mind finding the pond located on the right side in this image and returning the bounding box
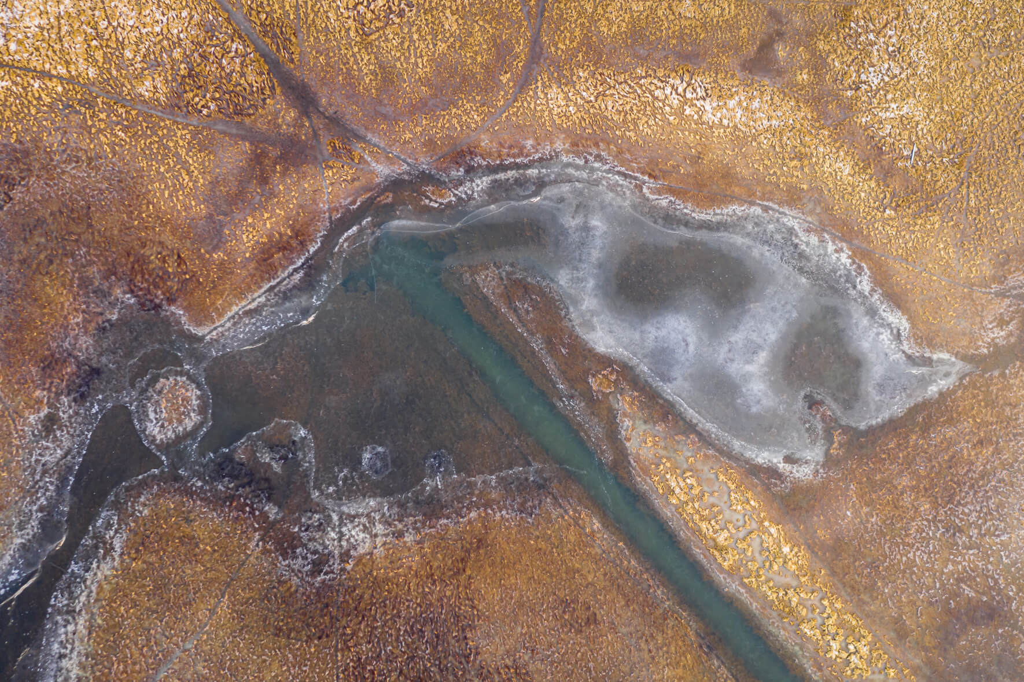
[376,182,977,476]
